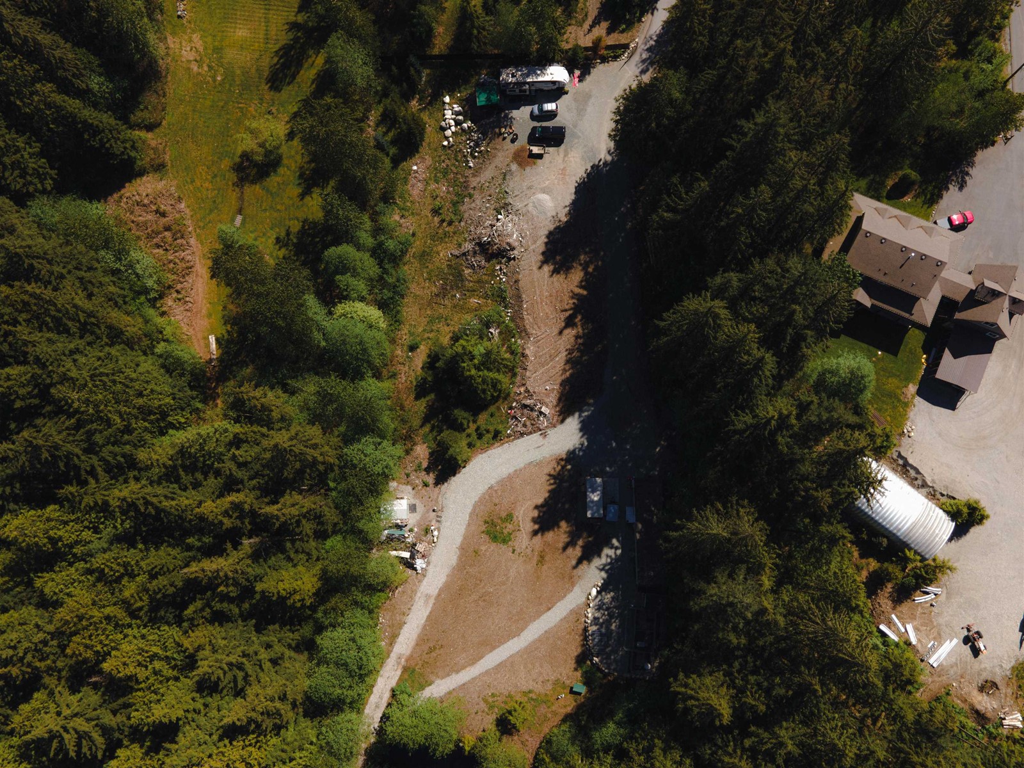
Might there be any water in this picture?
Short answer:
No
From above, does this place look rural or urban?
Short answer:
rural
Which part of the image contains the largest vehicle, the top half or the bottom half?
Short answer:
top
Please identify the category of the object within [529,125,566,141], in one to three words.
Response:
vehicle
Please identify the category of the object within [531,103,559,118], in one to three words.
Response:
car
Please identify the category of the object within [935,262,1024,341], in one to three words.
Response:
building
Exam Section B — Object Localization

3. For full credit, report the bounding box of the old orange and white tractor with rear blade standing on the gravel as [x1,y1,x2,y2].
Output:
[967,624,988,654]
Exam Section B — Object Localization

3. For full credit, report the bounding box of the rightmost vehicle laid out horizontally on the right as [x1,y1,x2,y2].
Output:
[934,212,971,228]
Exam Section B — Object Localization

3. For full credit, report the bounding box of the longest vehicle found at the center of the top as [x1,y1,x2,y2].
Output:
[500,66,568,97]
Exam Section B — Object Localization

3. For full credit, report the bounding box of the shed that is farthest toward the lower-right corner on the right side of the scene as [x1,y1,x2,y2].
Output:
[853,459,960,559]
